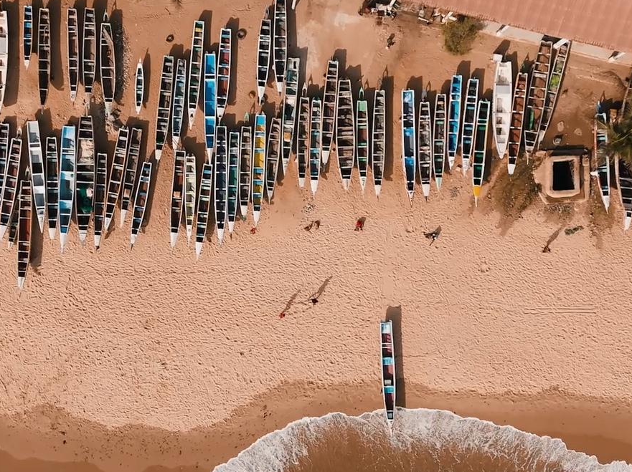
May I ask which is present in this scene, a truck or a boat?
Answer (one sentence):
The image shows a boat.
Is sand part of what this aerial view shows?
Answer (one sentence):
Yes, there's sand in this view.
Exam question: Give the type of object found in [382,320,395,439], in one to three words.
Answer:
boat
